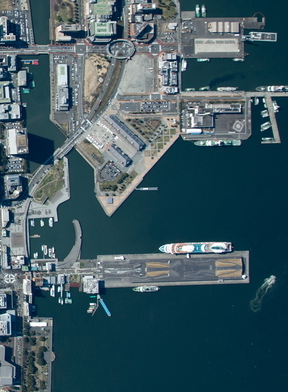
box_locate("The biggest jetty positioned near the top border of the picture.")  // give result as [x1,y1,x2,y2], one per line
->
[180,11,265,58]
